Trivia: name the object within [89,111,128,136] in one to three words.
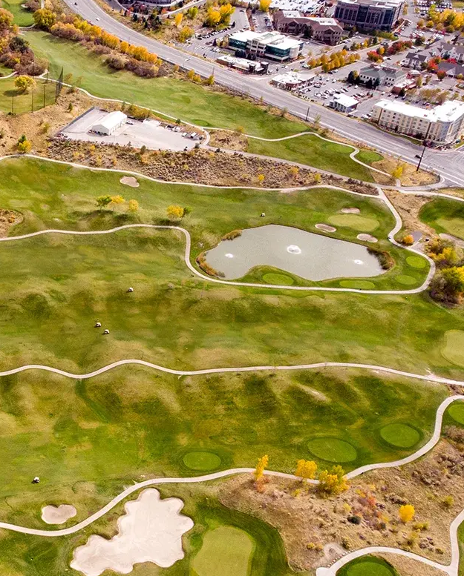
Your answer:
shed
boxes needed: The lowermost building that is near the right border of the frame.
[369,96,464,144]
